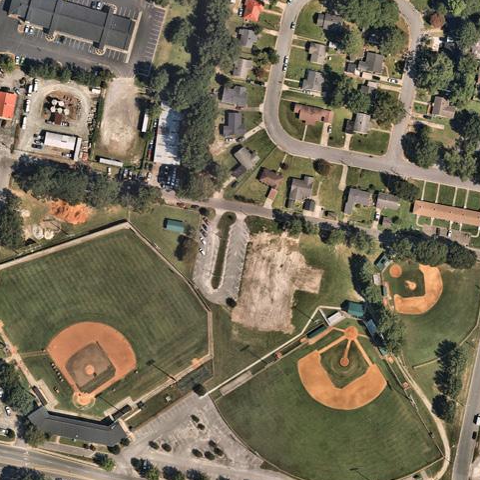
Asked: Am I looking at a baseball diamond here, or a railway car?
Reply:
baseball diamond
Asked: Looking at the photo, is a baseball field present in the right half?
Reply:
Yes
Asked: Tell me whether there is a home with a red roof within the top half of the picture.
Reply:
Yes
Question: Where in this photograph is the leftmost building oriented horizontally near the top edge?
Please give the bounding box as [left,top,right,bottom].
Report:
[7,0,133,50]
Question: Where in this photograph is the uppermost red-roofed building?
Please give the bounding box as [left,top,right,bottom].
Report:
[240,0,264,22]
